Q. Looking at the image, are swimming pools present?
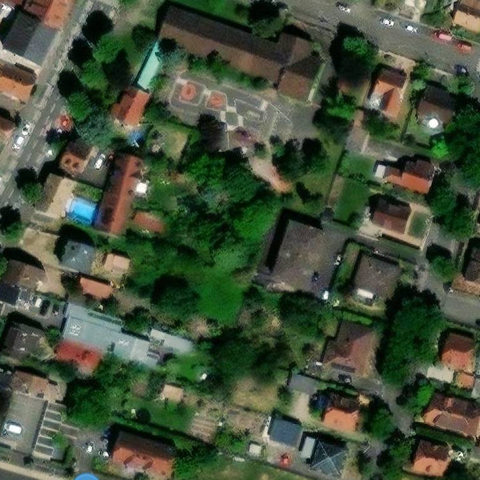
Yes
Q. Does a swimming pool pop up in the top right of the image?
No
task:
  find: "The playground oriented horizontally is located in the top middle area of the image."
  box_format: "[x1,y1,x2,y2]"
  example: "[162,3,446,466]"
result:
[168,77,323,145]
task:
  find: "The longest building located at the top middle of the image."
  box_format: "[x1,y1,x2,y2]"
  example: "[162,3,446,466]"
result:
[155,1,316,100]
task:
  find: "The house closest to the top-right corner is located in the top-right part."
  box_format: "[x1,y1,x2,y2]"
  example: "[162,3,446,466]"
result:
[446,0,480,29]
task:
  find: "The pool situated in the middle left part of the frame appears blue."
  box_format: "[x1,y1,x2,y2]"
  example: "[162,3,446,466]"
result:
[69,197,103,225]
